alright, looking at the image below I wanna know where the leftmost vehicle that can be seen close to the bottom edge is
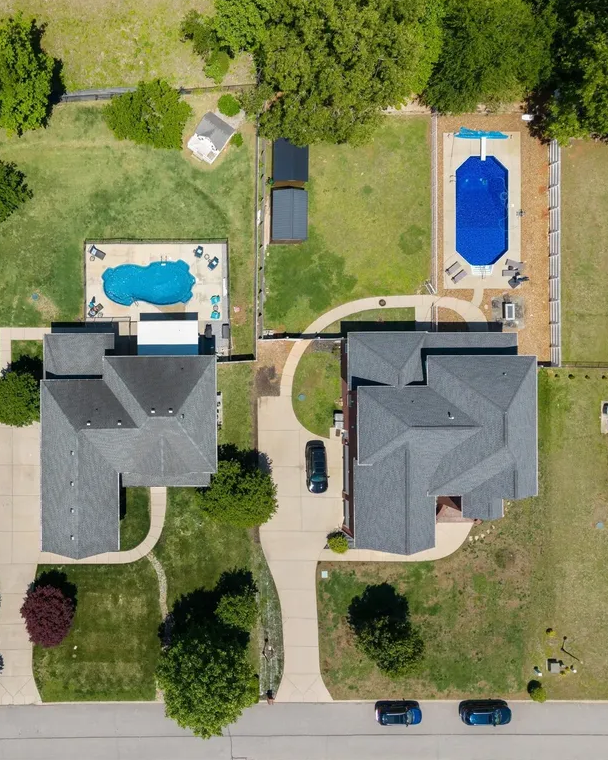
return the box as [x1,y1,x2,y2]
[376,702,421,727]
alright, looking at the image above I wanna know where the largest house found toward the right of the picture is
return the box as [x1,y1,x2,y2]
[340,331,538,555]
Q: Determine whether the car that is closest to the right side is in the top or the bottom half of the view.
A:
bottom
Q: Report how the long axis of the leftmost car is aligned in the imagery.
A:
up and down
